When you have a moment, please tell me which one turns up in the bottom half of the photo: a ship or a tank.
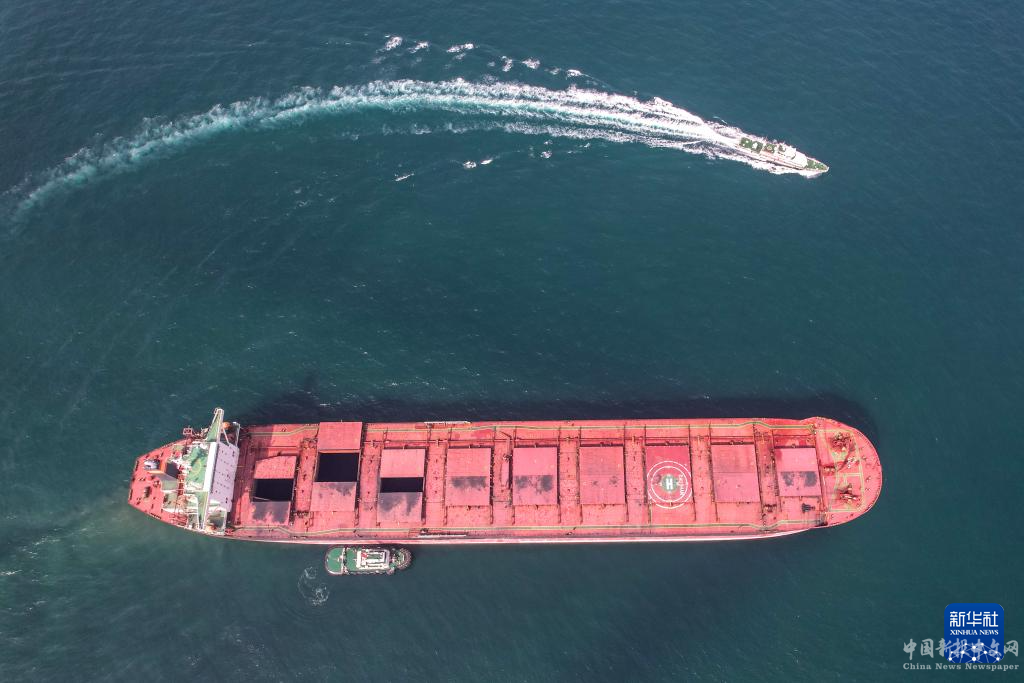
ship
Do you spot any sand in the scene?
No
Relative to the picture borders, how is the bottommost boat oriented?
from side to side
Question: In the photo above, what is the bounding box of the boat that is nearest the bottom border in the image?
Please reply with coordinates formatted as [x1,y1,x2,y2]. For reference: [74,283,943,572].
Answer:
[325,545,412,576]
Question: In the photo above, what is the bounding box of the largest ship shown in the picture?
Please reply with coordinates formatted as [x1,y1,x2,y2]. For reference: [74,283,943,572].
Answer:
[129,409,881,546]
